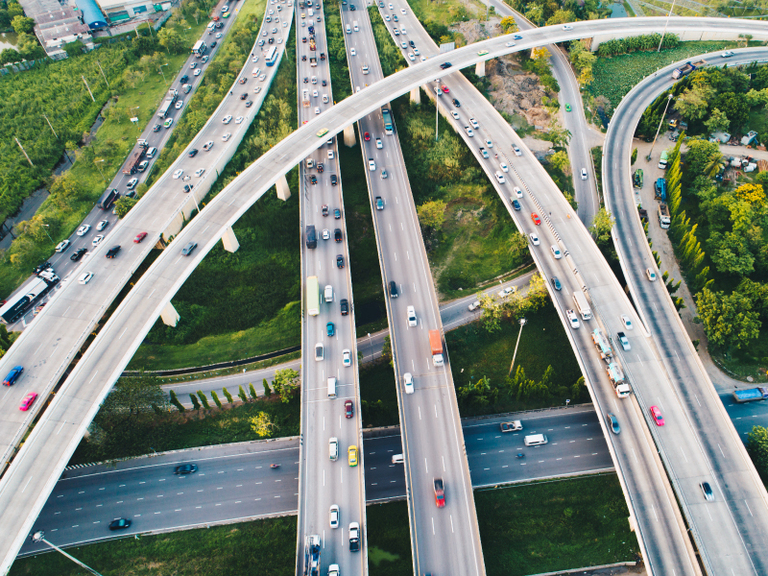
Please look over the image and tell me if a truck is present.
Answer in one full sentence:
Yes, the frame does contain a truck.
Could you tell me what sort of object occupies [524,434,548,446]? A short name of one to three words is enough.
vehicle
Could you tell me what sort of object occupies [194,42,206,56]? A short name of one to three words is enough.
vehicle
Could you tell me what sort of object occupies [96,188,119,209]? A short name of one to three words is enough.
truck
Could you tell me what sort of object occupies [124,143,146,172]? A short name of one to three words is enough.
truck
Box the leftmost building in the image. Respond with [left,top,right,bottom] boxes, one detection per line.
[17,0,90,59]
